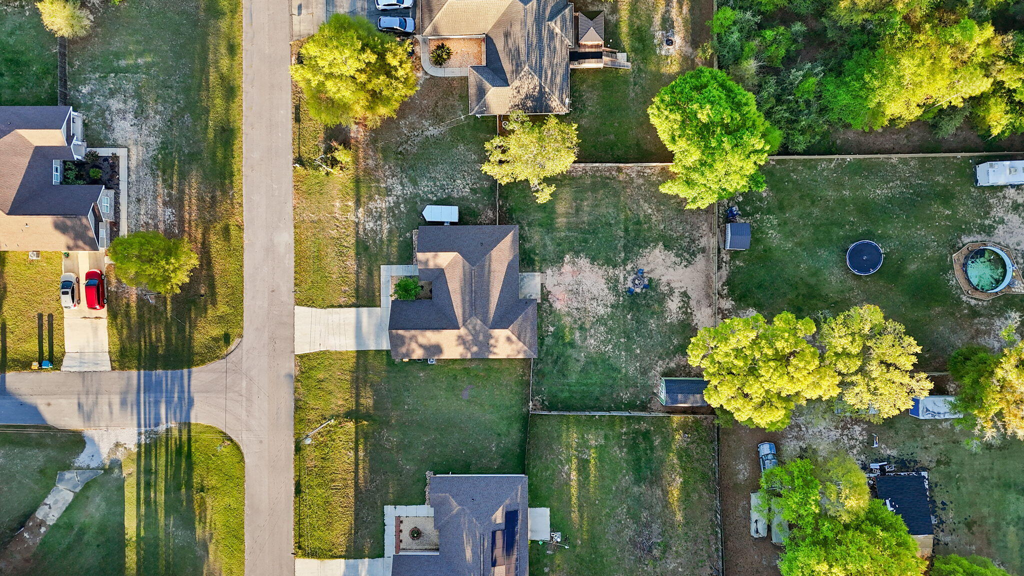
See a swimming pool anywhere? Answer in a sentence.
Yes, a swimming pool is visible in the scene.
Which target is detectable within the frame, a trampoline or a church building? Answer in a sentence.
There is a trampoline in the scene.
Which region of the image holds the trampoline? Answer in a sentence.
The trampoline is located in the right region of the scene.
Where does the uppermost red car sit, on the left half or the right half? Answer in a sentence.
It is on the left.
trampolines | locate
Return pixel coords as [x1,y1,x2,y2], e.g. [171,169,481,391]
[845,239,883,276]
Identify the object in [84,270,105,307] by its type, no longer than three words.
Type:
car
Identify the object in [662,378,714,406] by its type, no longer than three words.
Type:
shed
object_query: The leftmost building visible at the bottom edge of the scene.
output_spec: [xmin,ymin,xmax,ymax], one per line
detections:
[389,473,528,576]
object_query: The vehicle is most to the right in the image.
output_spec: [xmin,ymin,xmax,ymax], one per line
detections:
[971,161,1024,189]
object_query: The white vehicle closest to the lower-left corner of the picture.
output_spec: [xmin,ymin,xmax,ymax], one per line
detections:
[58,270,80,307]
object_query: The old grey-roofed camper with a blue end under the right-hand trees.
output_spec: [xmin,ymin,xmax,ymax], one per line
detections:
[911,394,965,419]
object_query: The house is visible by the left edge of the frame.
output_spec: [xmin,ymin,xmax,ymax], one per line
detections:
[0,106,114,251]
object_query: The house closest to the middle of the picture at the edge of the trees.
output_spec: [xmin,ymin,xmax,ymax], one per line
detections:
[388,224,538,359]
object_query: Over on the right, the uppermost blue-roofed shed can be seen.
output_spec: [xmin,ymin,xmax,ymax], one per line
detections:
[725,223,751,249]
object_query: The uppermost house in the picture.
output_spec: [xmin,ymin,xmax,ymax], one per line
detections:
[420,0,574,117]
